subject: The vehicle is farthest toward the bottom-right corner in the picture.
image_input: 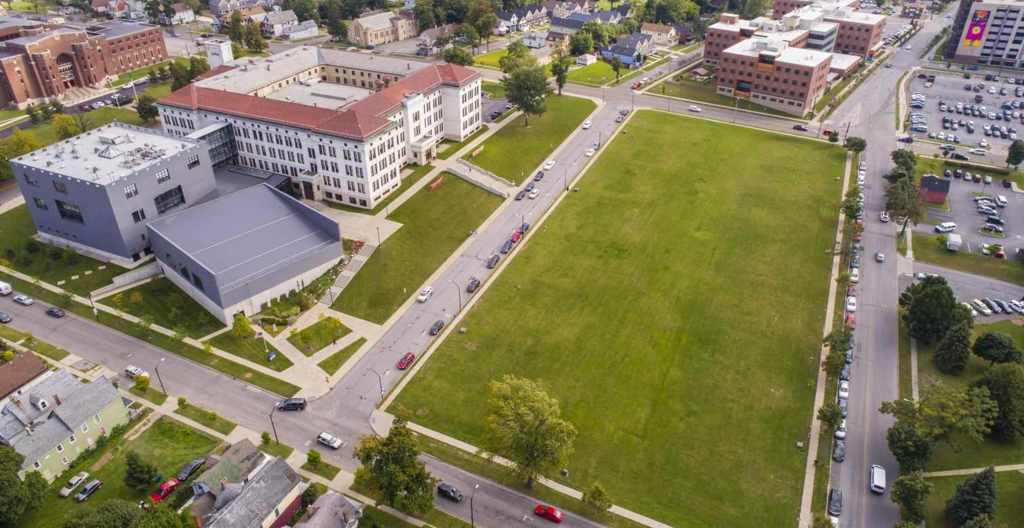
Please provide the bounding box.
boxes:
[869,464,887,495]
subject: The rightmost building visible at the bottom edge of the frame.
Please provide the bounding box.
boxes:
[284,491,376,528]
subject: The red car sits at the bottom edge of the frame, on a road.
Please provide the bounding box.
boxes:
[533,504,564,525]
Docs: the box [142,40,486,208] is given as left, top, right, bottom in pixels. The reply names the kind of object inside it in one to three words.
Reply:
building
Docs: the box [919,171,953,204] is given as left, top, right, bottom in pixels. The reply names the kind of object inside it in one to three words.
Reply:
building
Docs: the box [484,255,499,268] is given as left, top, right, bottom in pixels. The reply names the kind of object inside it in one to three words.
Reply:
vehicle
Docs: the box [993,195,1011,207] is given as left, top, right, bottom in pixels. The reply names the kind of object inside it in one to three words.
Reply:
vehicle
